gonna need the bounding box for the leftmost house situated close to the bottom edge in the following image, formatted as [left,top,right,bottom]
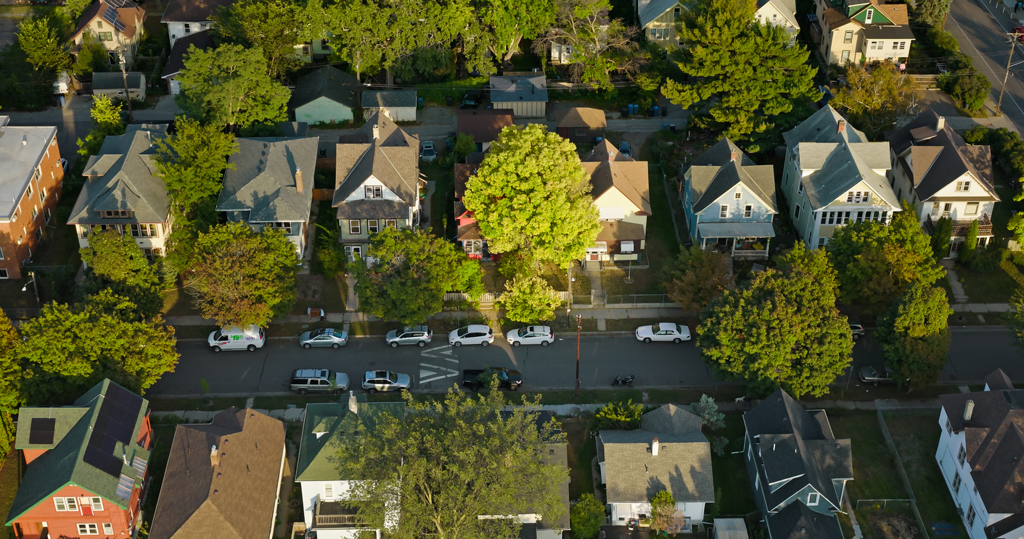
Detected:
[0,376,176,539]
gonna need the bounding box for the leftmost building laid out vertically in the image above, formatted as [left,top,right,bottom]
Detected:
[0,112,68,278]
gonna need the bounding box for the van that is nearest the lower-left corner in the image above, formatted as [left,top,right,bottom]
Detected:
[207,323,268,352]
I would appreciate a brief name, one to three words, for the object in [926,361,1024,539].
house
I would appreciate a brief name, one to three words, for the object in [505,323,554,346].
car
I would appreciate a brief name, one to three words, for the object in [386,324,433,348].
car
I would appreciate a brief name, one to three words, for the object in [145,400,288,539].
house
